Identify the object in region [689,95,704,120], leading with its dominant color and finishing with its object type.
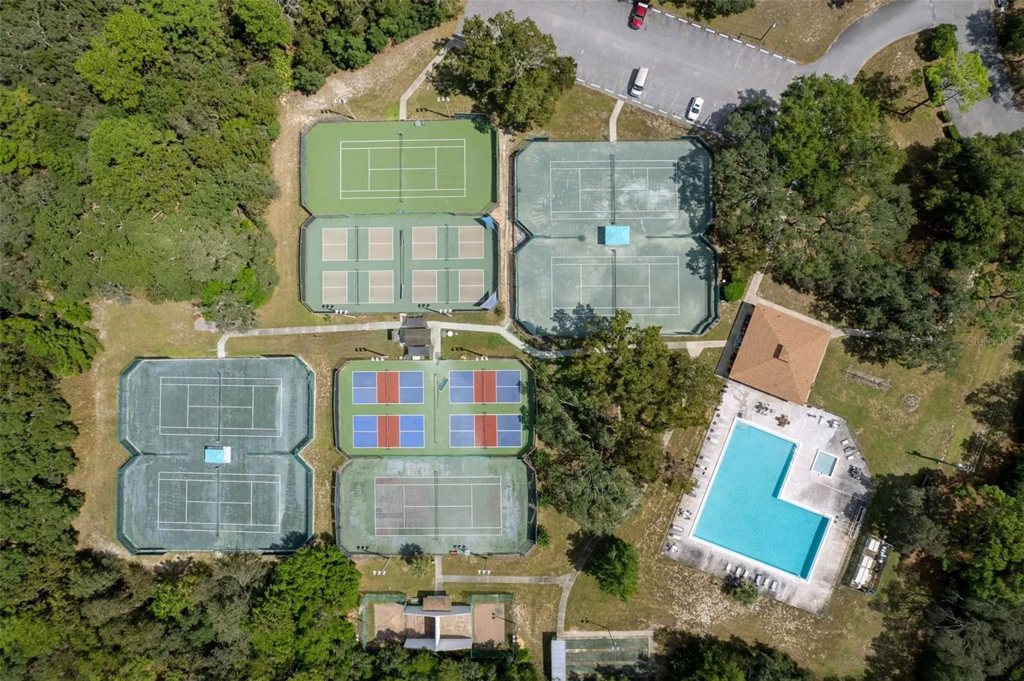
white car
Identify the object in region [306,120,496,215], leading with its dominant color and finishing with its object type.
green tennis court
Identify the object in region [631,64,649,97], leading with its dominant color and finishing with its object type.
white vehicle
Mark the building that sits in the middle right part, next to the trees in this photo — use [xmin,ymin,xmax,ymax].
[726,304,831,405]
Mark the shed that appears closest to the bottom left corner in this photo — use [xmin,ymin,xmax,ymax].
[423,593,452,610]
